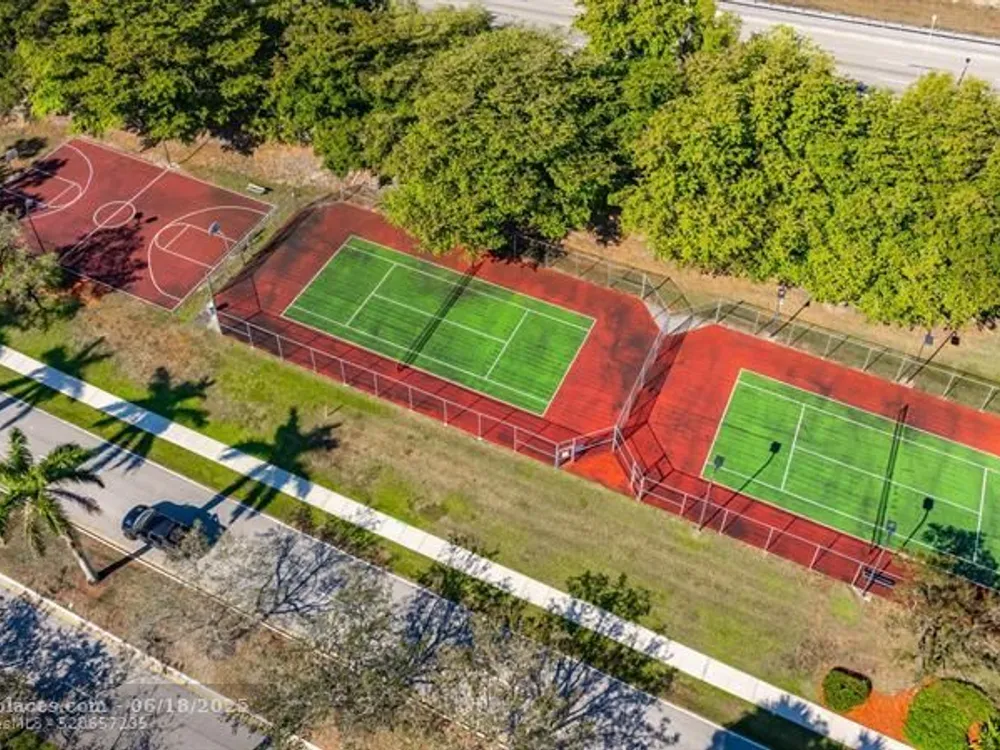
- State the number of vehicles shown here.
one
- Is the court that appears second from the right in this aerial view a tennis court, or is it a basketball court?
tennis court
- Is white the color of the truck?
No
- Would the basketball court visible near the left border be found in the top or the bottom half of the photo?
top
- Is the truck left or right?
left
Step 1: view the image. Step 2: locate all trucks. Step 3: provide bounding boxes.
[120,501,207,562]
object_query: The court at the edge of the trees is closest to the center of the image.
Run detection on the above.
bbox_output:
[215,198,664,482]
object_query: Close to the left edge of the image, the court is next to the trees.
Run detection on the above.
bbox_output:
[0,137,276,312]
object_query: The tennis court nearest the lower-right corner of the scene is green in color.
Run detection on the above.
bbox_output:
[596,323,1000,635]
